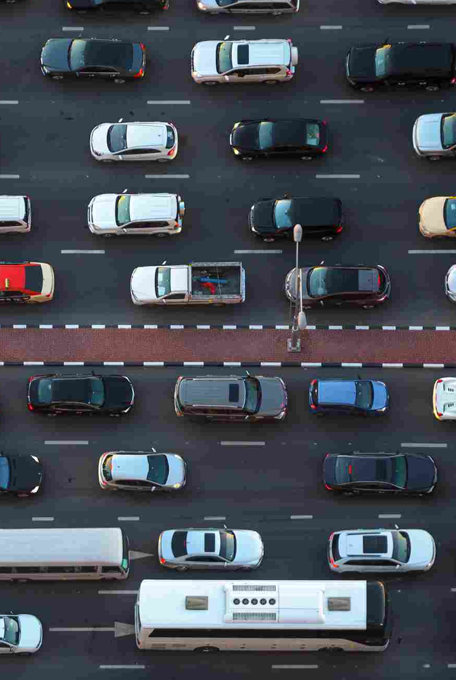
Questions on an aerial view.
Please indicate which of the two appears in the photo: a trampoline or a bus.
bus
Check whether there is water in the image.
No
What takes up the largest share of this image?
paved ground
